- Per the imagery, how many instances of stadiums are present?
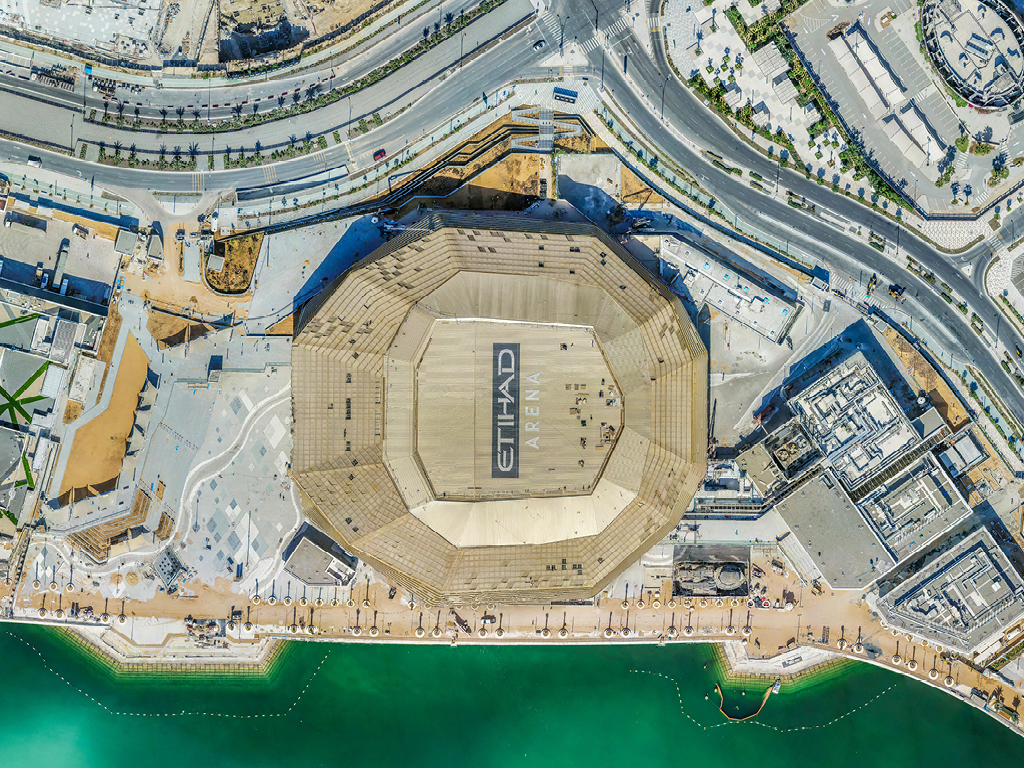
1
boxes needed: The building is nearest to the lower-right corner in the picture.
[873,525,1024,657]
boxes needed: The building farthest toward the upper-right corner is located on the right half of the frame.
[926,0,1024,107]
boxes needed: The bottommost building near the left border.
[0,288,111,532]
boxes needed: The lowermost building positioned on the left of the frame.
[283,536,356,586]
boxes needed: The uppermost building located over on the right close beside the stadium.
[660,234,805,347]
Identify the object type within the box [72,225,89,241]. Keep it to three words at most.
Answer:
vehicle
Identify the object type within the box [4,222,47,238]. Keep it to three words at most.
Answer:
vehicle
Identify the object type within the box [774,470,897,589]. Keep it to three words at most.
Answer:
building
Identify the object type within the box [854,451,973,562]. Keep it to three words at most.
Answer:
building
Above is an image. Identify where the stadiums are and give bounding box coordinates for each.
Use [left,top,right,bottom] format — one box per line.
[290,213,708,606]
